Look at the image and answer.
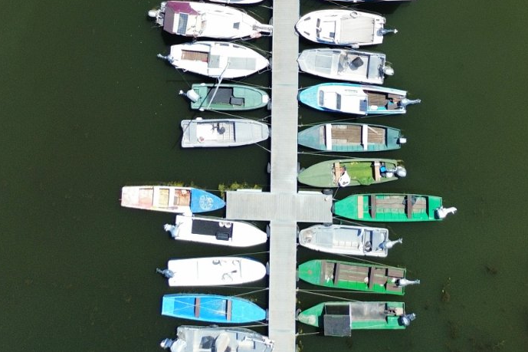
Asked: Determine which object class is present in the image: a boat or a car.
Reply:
boat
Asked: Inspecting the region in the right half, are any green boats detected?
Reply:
Yes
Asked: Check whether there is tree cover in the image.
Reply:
No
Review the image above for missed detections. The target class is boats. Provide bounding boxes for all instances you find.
[328,192,457,221]
[298,81,419,126]
[144,1,273,43]
[298,260,418,293]
[122,184,226,216]
[174,83,271,125]
[162,289,268,324]
[298,290,421,335]
[182,116,271,151]
[296,0,396,48]
[159,322,274,352]
[164,213,269,249]
[298,123,413,154]
[160,40,271,107]
[298,153,417,195]
[297,45,401,85]
[159,251,268,289]
[299,218,403,271]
